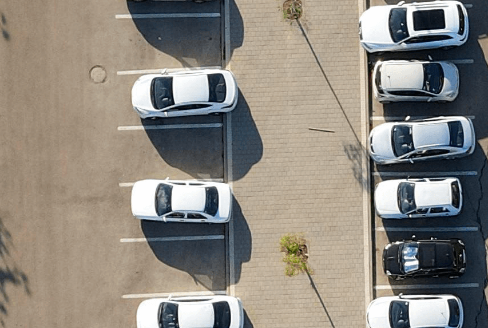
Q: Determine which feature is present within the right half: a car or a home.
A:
car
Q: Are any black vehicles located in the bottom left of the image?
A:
No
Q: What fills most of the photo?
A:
paved ground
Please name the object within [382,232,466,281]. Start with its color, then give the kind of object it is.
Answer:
black car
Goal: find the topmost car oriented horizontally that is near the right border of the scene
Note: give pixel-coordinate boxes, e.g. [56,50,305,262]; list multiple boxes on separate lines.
[359,0,468,51]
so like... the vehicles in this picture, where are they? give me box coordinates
[136,291,244,328]
[131,175,232,224]
[373,53,459,102]
[366,289,464,328]
[368,112,475,163]
[382,232,466,281]
[359,0,468,51]
[132,66,238,119]
[375,171,463,220]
